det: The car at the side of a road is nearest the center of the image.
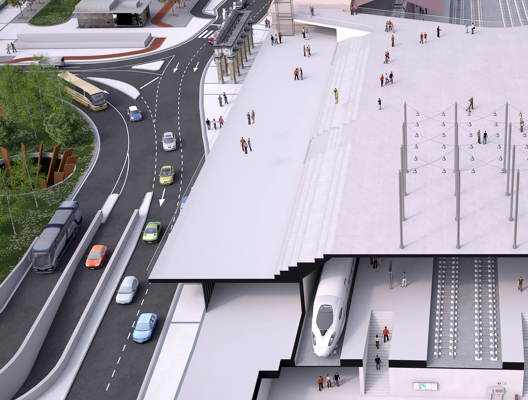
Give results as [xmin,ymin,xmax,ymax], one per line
[176,192,190,216]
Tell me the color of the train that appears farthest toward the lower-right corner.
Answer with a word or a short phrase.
white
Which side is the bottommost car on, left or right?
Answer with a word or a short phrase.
left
